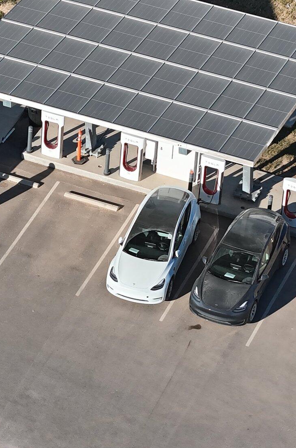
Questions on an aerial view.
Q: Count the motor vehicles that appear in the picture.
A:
2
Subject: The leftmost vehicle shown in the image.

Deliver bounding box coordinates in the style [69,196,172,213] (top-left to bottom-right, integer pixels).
[108,192,201,307]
